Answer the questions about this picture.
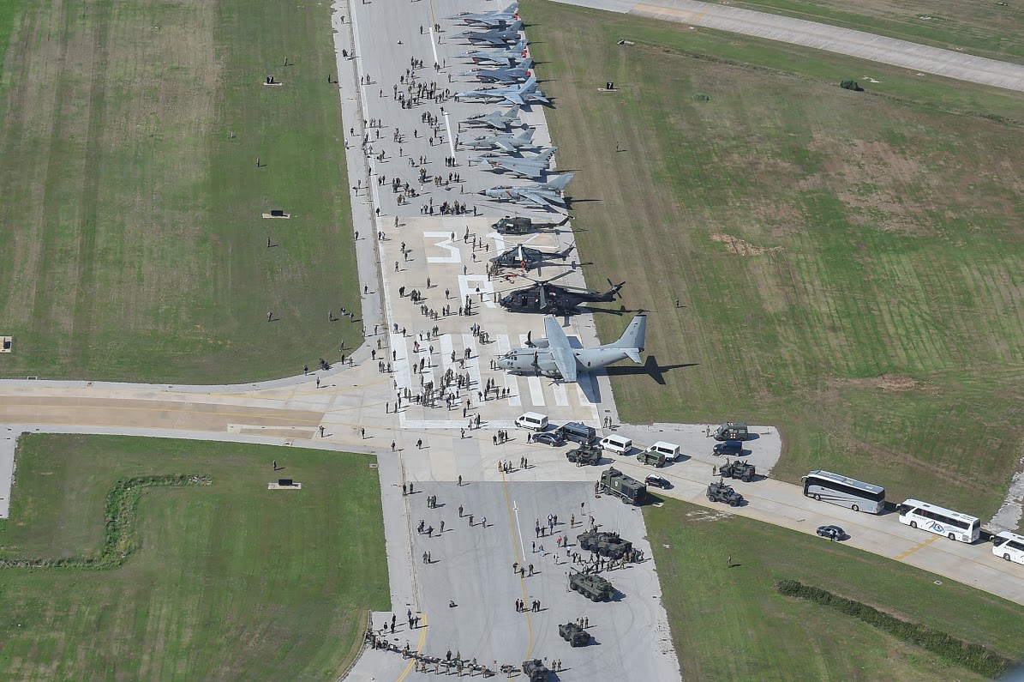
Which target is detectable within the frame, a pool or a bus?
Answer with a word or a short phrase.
bus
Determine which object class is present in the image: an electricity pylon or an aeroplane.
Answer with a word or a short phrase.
aeroplane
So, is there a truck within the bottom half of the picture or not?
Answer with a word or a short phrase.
Yes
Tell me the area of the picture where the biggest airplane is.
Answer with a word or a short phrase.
center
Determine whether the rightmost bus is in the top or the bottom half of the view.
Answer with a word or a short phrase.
bottom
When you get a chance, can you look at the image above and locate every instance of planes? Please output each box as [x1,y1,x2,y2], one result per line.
[459,57,531,84]
[450,38,527,66]
[497,314,646,381]
[475,169,575,204]
[457,125,532,151]
[451,19,522,46]
[455,74,549,105]
[447,1,517,27]
[469,145,555,176]
[456,102,519,129]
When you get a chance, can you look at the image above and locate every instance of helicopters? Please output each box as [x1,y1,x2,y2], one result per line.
[478,207,575,235]
[485,235,578,271]
[488,270,626,315]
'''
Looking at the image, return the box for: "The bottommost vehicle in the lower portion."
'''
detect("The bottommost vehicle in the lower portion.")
[524,655,551,682]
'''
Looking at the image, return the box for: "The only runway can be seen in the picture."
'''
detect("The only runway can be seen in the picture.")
[353,0,665,682]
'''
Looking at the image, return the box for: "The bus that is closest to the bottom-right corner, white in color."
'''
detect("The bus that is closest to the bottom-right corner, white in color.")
[987,527,1024,563]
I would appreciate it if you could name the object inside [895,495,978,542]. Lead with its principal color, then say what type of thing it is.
white bus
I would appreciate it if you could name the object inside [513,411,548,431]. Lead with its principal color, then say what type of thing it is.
white vehicle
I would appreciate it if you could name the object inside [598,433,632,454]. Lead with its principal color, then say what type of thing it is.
white vehicle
